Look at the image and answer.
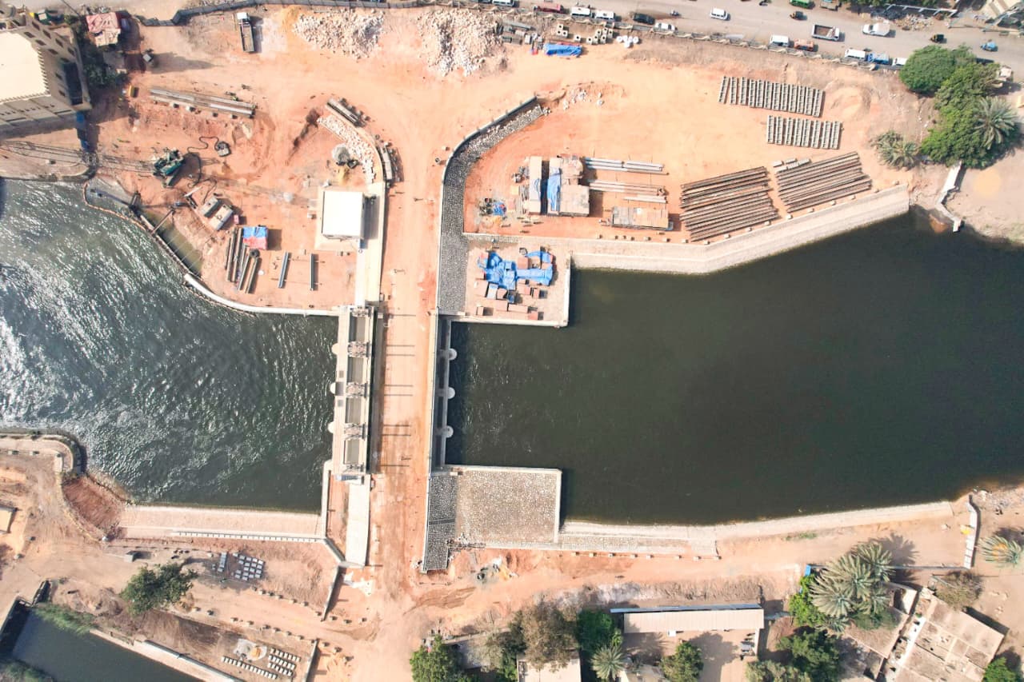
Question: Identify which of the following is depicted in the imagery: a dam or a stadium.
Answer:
dam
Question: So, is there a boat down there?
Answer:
No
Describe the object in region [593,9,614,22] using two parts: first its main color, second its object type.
white vehicle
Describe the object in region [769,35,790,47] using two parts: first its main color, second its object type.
white vehicle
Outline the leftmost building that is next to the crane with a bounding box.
[0,4,91,128]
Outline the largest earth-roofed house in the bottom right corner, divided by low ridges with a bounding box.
[875,592,1006,682]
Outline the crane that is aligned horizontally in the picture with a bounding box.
[0,137,187,181]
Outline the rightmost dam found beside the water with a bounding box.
[327,306,458,483]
